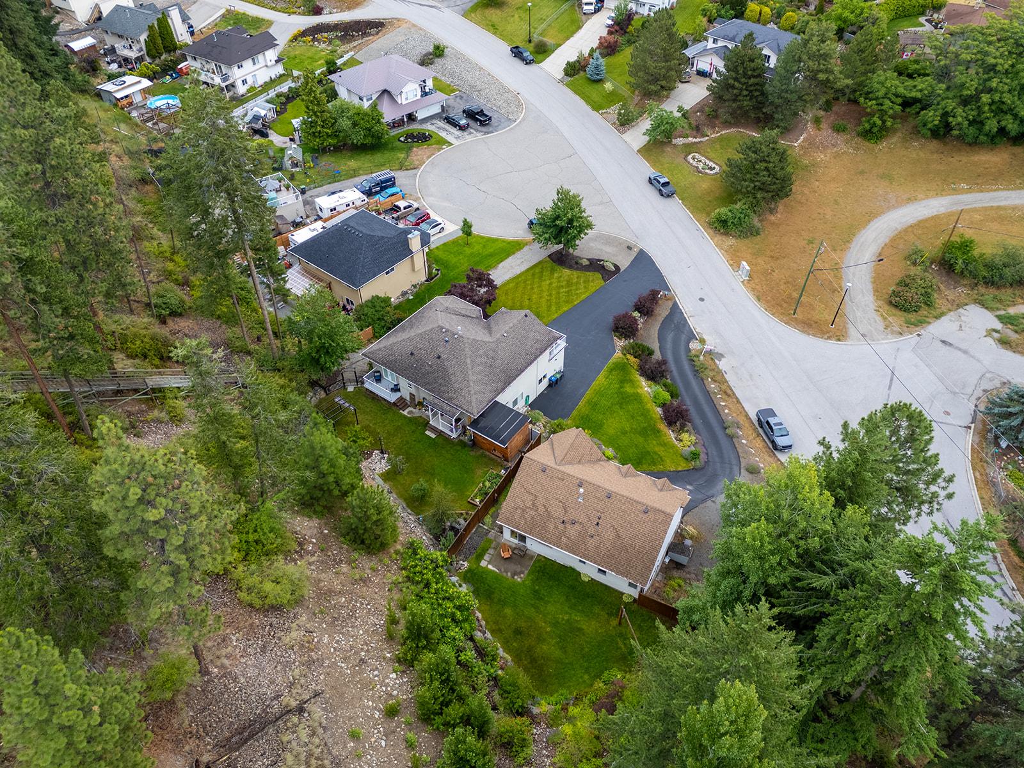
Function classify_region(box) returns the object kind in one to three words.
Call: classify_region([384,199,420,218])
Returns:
vehicle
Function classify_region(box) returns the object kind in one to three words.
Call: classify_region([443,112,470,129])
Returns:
car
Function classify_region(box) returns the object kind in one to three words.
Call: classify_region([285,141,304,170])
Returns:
greenhouse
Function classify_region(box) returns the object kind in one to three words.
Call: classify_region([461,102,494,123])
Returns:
truck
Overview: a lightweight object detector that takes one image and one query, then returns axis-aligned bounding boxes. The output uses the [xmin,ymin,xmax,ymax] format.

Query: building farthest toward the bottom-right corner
[495,427,691,594]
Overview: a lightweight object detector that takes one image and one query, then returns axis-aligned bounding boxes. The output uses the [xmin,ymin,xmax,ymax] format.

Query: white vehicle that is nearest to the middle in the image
[423,218,446,235]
